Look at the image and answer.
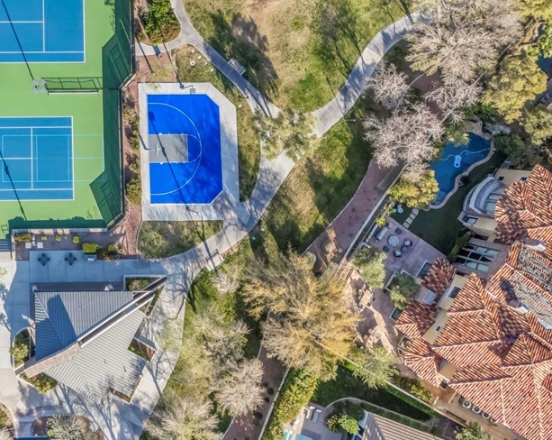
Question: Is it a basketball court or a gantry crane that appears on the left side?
basketball court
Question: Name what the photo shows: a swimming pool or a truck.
swimming pool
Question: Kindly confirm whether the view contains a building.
Yes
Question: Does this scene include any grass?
Yes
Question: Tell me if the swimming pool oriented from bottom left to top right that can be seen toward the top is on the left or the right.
right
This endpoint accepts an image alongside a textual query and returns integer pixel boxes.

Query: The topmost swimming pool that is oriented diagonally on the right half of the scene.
[424,129,496,210]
